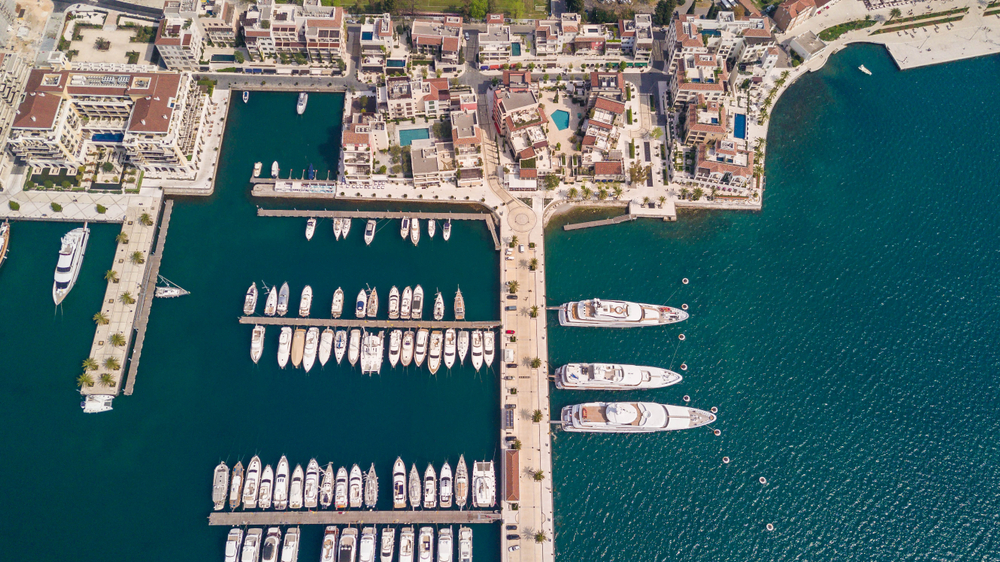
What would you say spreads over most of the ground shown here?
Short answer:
water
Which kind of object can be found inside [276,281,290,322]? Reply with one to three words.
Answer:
boat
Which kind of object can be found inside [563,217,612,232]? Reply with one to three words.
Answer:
pier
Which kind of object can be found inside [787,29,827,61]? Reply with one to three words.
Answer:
building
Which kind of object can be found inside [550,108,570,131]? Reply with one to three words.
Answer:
swimming pool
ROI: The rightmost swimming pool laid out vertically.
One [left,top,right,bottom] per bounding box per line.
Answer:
[731,112,748,140]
